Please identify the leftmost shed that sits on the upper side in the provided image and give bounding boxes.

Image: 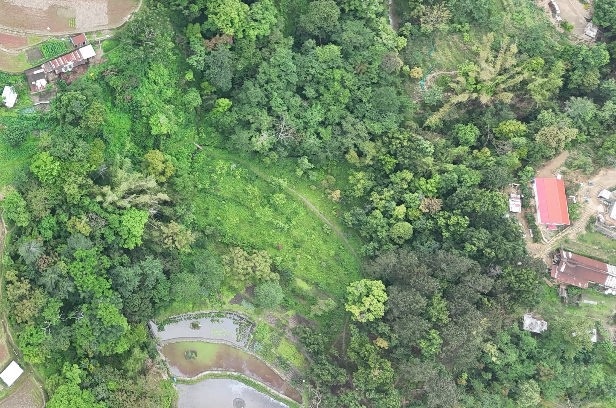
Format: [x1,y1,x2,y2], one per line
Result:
[1,85,17,113]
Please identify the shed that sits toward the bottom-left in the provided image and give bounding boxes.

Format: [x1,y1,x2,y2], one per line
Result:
[0,361,24,386]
